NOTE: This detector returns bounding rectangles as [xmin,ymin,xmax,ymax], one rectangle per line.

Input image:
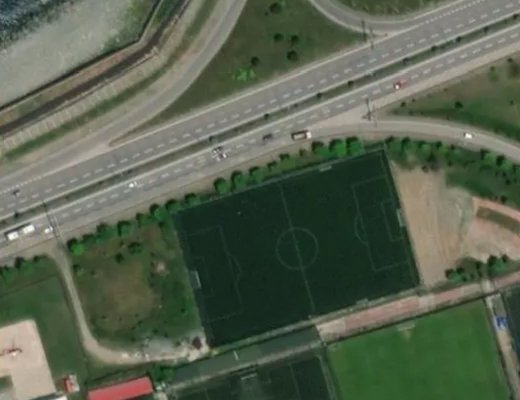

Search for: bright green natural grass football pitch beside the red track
[328,300,513,400]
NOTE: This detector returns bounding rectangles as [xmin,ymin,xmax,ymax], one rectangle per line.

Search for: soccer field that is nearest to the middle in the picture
[176,151,420,346]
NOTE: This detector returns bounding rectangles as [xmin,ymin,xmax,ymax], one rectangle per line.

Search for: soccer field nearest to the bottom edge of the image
[176,354,331,400]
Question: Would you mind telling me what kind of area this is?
sports ground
